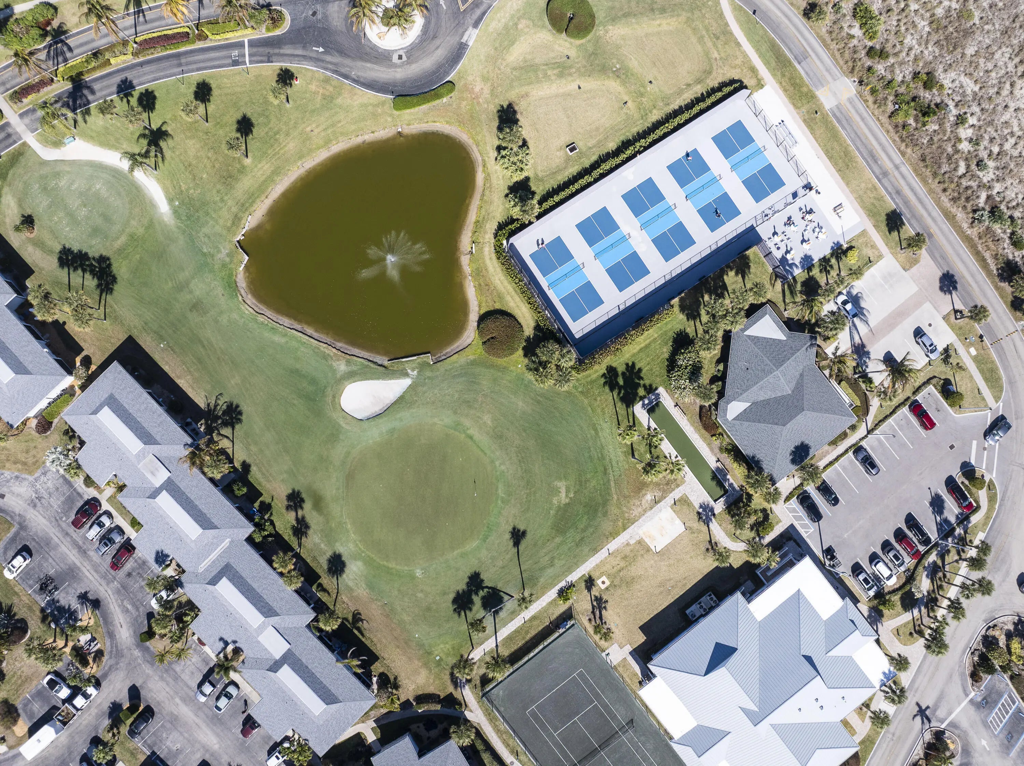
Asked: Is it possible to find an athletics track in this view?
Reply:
No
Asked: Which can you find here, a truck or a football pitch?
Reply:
truck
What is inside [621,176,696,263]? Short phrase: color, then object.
blue sports court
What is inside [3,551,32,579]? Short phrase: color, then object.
white car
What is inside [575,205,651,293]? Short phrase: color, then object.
blue sports court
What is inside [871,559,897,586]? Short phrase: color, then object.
white car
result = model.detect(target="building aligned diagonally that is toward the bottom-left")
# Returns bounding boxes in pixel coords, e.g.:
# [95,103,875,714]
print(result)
[62,361,385,754]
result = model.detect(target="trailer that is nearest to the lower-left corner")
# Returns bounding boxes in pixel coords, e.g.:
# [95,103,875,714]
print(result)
[19,714,74,761]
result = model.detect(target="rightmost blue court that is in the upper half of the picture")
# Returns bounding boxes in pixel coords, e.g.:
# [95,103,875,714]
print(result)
[711,118,786,204]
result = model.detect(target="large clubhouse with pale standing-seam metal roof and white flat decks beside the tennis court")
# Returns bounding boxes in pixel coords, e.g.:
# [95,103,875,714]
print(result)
[638,555,898,766]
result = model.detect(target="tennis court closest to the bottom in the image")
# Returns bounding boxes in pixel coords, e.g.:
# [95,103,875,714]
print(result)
[485,624,685,766]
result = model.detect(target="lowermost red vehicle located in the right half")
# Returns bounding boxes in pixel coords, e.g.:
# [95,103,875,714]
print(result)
[896,533,922,561]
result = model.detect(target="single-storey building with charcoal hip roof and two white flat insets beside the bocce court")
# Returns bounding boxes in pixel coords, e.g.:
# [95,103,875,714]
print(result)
[716,304,858,487]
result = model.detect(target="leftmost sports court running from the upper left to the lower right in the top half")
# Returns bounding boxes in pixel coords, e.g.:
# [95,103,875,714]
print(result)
[529,235,604,323]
